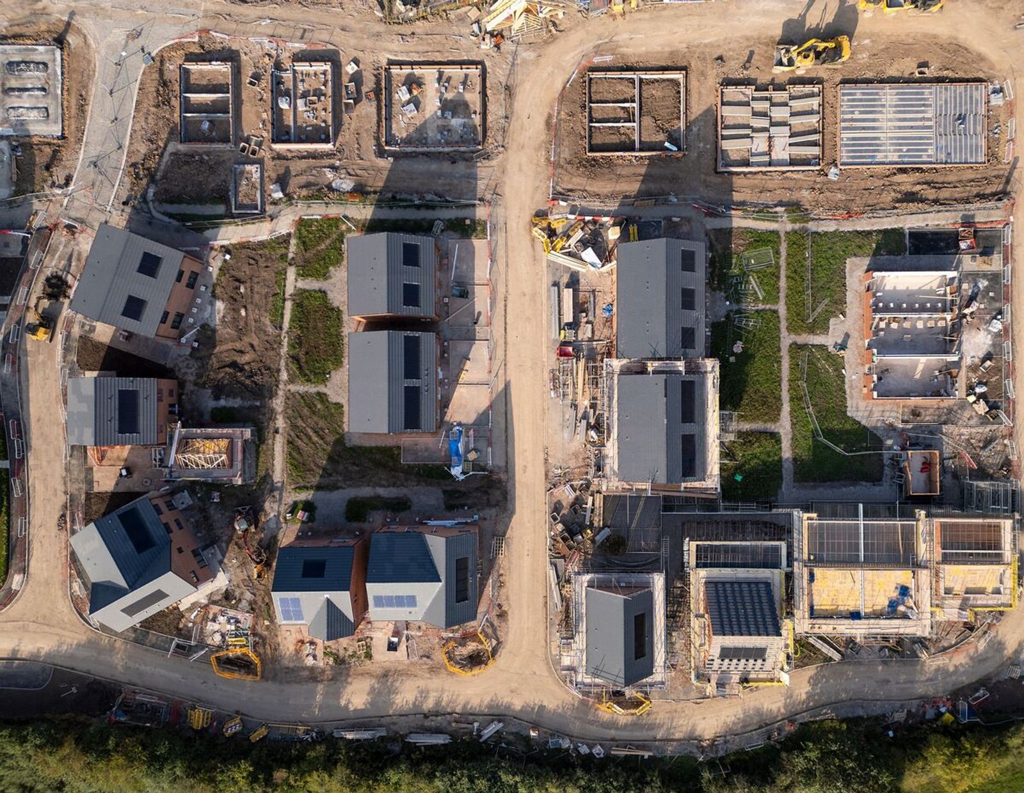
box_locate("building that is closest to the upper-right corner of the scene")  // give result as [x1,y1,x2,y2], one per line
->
[855,271,959,399]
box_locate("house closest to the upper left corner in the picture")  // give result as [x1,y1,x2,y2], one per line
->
[71,223,202,339]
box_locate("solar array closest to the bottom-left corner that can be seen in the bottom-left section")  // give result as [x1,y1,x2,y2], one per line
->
[120,589,169,617]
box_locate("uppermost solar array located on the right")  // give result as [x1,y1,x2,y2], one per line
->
[681,249,695,271]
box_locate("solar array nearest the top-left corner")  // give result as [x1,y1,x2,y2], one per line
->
[137,251,162,278]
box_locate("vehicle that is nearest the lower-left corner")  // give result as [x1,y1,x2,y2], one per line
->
[231,513,261,564]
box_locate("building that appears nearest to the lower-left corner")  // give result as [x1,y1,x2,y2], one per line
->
[71,493,215,633]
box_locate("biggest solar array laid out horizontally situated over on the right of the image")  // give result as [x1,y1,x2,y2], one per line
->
[719,646,767,659]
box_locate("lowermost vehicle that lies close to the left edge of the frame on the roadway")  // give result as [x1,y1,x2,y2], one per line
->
[21,297,51,342]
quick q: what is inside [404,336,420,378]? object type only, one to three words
solar array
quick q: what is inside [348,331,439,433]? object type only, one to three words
house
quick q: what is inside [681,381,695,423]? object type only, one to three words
solar array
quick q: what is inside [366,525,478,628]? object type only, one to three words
house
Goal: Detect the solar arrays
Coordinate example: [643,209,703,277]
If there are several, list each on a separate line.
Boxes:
[456,558,470,602]
[120,589,169,617]
[118,506,156,554]
[403,283,420,306]
[719,646,767,659]
[682,434,696,476]
[302,560,326,577]
[137,251,162,278]
[635,613,645,659]
[118,389,139,433]
[279,598,304,621]
[373,595,417,608]
[681,327,695,349]
[681,249,695,271]
[681,381,695,423]
[404,336,420,378]
[681,288,695,310]
[122,295,146,322]
[404,386,420,428]
[403,244,419,266]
